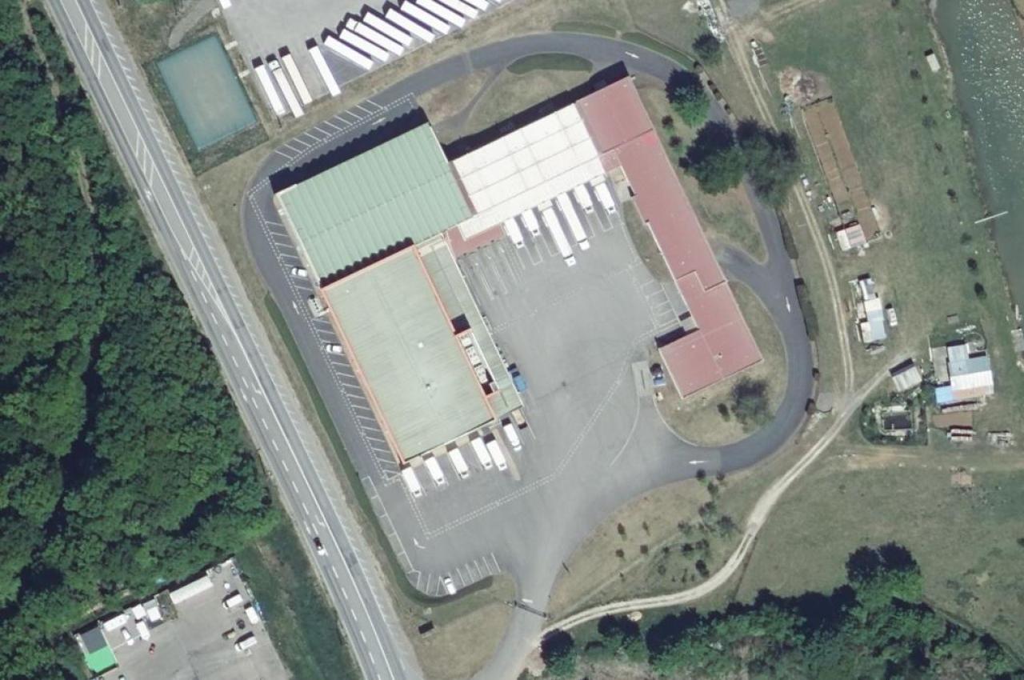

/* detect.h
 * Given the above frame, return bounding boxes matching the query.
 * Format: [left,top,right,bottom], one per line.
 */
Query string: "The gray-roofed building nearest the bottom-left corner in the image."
[82,628,107,653]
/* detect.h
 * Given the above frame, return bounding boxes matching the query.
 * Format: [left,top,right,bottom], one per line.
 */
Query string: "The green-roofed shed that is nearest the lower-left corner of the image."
[86,646,116,673]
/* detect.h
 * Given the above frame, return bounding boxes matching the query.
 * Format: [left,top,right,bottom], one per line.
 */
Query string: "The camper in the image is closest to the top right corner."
[886,308,899,331]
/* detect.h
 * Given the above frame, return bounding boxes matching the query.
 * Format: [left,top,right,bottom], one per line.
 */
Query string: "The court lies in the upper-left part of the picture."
[156,36,256,151]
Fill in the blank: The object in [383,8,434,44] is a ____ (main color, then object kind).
white trailer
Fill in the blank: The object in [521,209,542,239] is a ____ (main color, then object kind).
white truck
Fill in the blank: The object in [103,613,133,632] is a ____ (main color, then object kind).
white camper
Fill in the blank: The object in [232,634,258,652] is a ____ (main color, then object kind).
white vehicle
